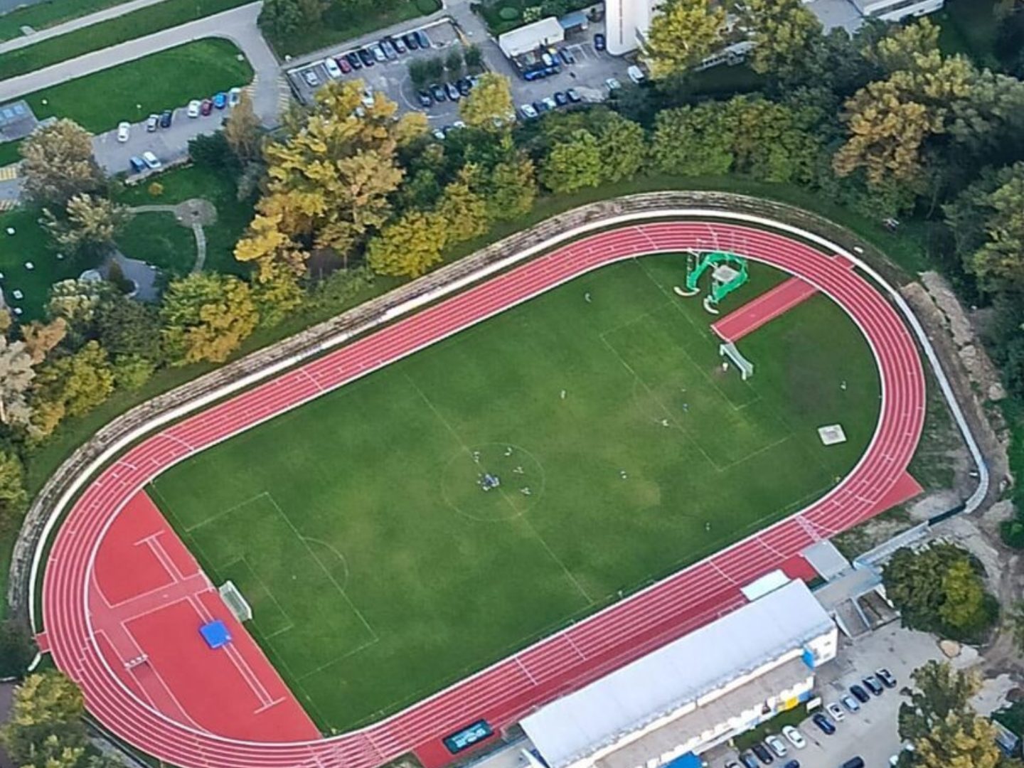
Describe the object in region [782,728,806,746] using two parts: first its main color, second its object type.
white car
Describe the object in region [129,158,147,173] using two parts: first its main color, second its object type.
blue car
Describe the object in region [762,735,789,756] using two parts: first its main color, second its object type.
white car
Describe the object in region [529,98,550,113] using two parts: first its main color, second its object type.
blue car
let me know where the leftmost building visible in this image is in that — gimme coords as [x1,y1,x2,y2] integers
[499,17,564,58]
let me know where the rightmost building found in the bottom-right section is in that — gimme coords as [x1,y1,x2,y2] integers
[800,537,901,641]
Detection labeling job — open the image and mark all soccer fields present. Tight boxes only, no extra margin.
[141,250,883,738]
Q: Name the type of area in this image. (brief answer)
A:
sports ground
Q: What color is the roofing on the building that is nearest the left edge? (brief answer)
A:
white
